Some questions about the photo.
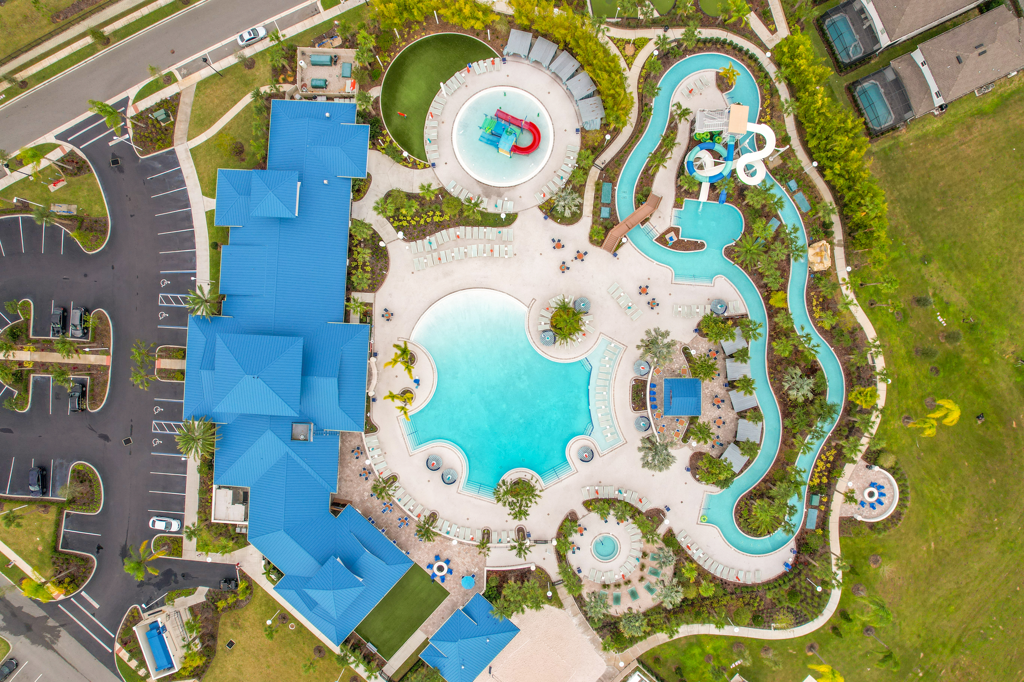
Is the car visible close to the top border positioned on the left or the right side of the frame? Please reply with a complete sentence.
The car visible close to the top border is on the left side of the image.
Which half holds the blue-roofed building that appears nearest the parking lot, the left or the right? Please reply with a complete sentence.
You can find the blue-roofed building that appears nearest the parking lot on the left side of the picture.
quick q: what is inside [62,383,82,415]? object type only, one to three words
car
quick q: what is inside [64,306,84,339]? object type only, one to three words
car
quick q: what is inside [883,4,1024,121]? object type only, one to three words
house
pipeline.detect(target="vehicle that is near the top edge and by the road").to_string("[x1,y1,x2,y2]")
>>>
[233,23,267,48]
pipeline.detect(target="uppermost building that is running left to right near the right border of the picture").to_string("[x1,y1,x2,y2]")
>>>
[850,0,987,57]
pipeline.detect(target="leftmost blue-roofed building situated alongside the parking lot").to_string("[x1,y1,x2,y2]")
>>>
[182,98,415,648]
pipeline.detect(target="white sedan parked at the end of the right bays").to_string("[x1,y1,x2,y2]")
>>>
[145,517,180,535]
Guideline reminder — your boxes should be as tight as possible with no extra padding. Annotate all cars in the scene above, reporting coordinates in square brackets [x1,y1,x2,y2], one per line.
[44,306,63,338]
[145,517,180,535]
[233,23,267,48]
[64,306,84,339]
[0,657,17,682]
[62,383,82,415]
[22,468,42,499]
